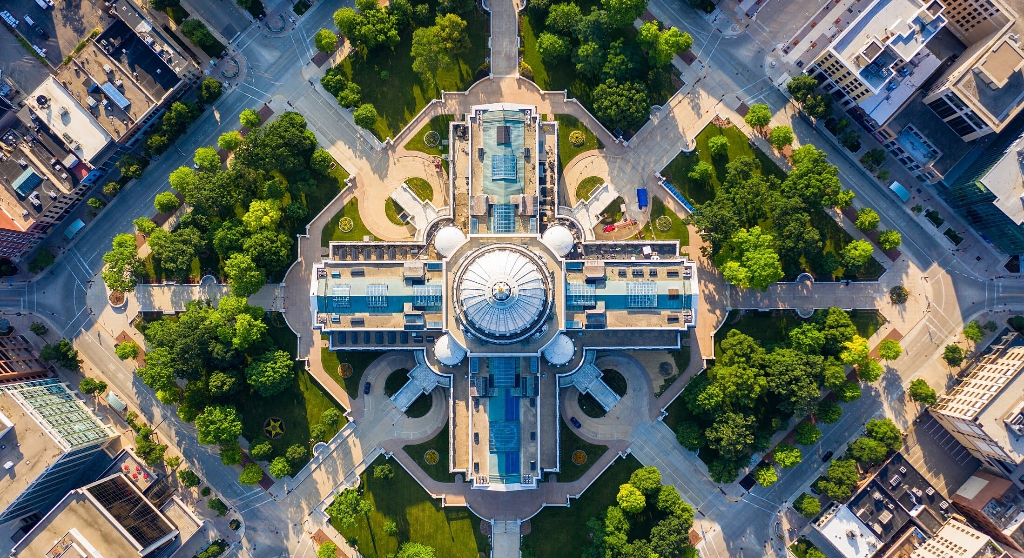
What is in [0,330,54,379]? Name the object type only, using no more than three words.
building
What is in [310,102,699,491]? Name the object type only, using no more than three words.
building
